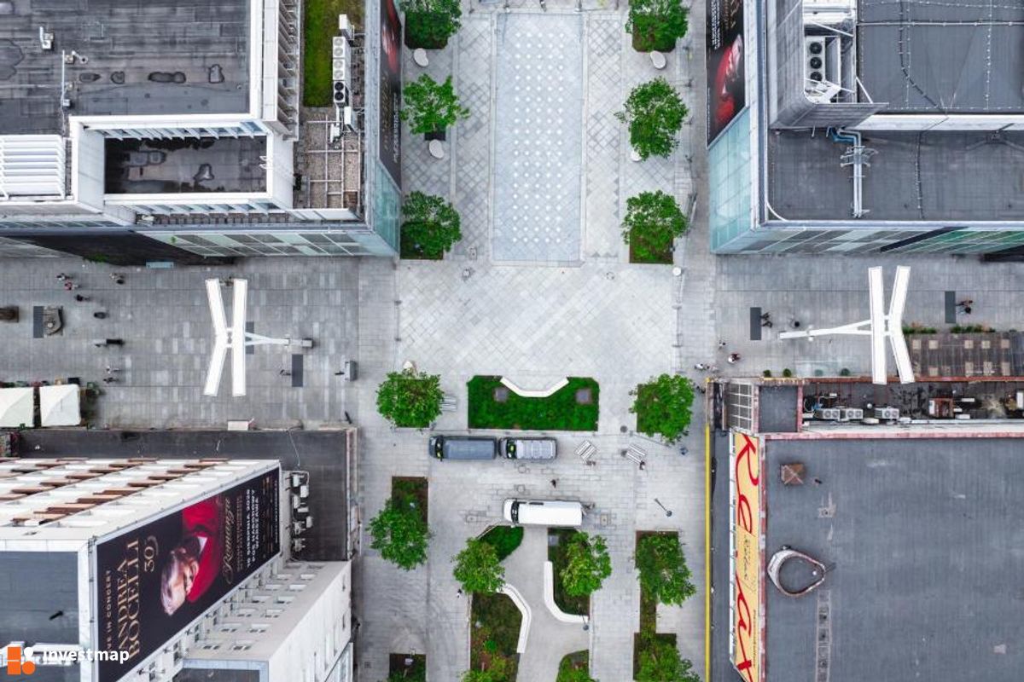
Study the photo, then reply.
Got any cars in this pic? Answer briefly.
Yes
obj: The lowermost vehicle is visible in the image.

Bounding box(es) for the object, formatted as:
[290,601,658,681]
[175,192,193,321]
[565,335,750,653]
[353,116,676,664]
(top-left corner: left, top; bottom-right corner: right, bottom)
[504,497,586,528]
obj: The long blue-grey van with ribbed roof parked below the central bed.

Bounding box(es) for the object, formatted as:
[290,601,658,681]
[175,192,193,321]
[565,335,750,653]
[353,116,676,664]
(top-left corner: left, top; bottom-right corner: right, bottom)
[429,434,498,463]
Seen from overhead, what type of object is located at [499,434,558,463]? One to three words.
car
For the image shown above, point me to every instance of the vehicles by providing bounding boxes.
[429,434,498,463]
[504,497,586,528]
[499,434,558,463]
